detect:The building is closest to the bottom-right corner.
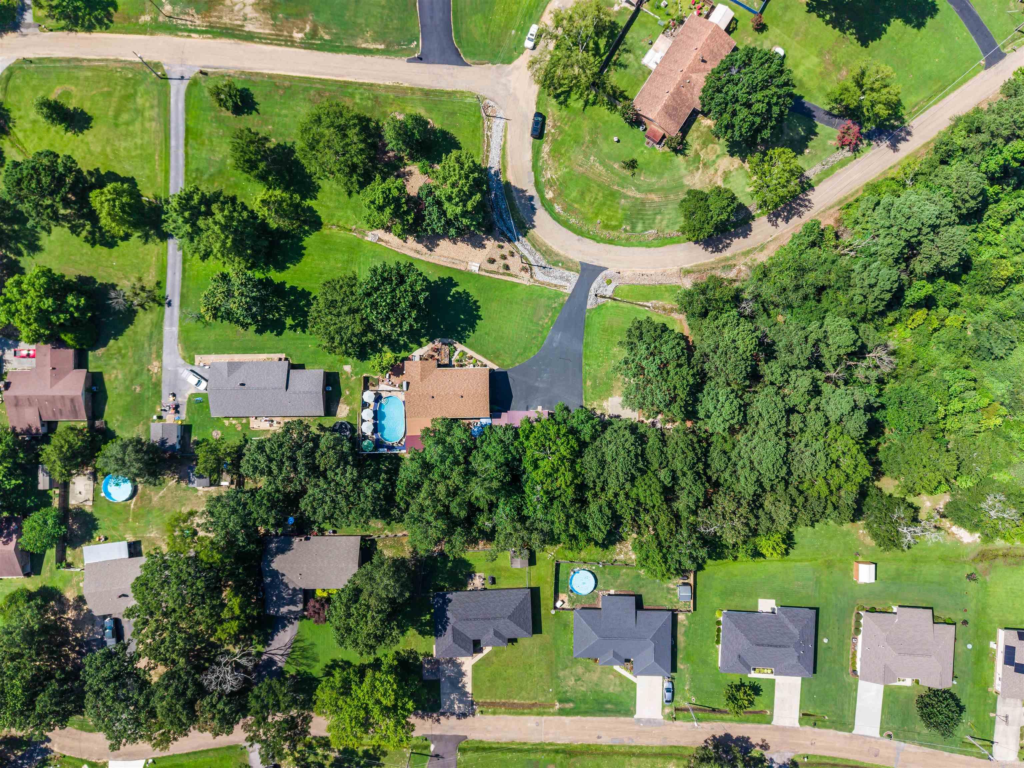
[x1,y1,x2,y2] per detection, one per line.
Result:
[993,627,1024,699]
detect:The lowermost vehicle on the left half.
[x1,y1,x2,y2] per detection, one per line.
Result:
[102,617,117,650]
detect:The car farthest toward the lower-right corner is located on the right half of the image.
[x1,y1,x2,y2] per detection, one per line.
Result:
[663,679,675,707]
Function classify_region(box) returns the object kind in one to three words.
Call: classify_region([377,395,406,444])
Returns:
swimming pool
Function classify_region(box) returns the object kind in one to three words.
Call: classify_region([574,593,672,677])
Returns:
house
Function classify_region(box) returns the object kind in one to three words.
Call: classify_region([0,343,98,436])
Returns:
house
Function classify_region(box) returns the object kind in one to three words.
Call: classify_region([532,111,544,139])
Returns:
vehicle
